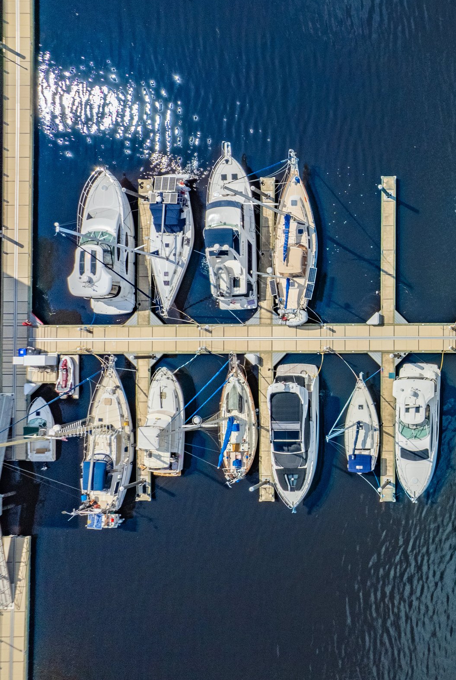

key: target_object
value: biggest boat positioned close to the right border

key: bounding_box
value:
[393,364,441,503]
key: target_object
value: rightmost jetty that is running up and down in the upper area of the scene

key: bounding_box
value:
[378,175,410,324]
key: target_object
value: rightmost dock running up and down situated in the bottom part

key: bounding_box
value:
[367,352,410,503]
